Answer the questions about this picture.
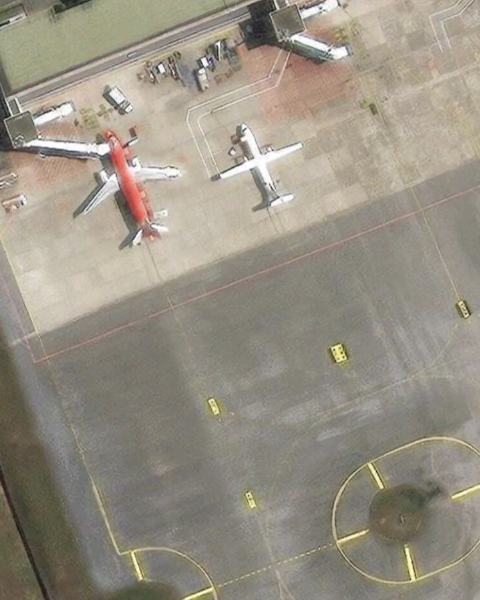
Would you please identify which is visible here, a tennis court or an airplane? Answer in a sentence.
Of the two, only an airplane appears.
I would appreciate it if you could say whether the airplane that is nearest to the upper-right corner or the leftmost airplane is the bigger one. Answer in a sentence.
The leftmost airplane covers a greater area than the airplane that is nearest to the upper-right corner.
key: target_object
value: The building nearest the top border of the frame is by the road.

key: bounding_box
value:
[264,0,306,43]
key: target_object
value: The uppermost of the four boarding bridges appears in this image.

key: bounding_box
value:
[300,0,341,19]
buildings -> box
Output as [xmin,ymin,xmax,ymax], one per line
[264,0,306,43]
[0,0,258,101]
